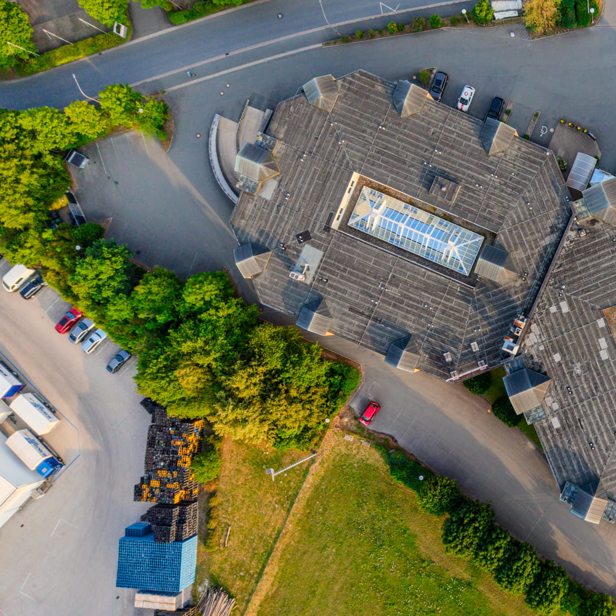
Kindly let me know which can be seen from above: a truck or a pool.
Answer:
truck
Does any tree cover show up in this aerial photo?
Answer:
Yes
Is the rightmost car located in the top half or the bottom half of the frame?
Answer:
top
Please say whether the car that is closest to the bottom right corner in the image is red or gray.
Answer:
red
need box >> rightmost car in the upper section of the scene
[482,94,504,120]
